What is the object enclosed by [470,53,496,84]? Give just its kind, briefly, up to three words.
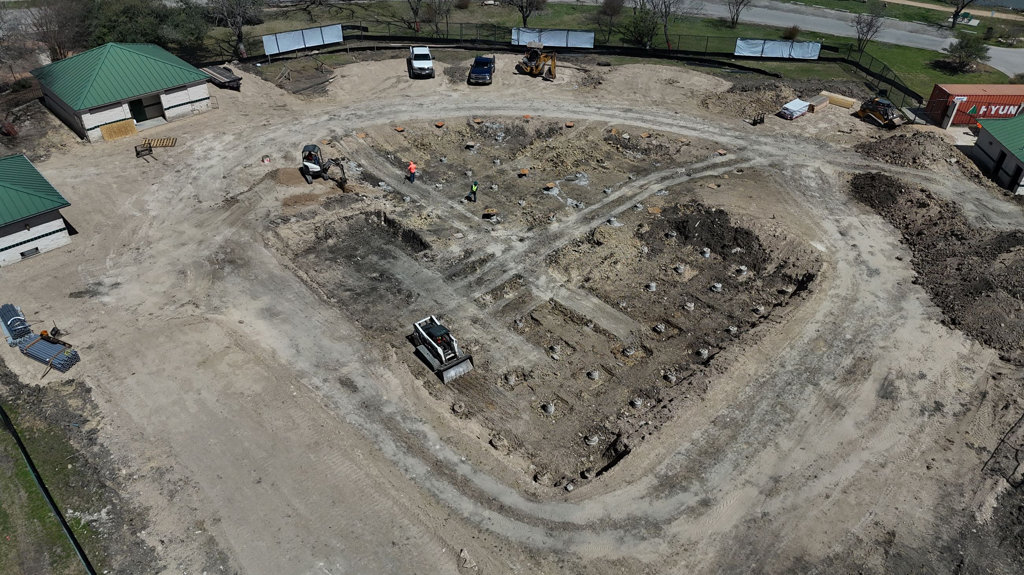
truck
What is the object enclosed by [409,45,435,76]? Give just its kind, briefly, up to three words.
truck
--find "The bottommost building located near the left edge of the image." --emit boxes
[0,152,73,268]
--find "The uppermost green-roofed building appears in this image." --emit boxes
[29,43,212,143]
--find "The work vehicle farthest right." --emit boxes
[860,92,907,132]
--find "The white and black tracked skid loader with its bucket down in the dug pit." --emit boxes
[408,314,475,383]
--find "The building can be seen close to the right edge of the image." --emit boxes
[974,118,1024,195]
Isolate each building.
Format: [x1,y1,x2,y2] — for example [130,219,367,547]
[974,118,1024,195]
[29,43,212,143]
[0,152,73,268]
